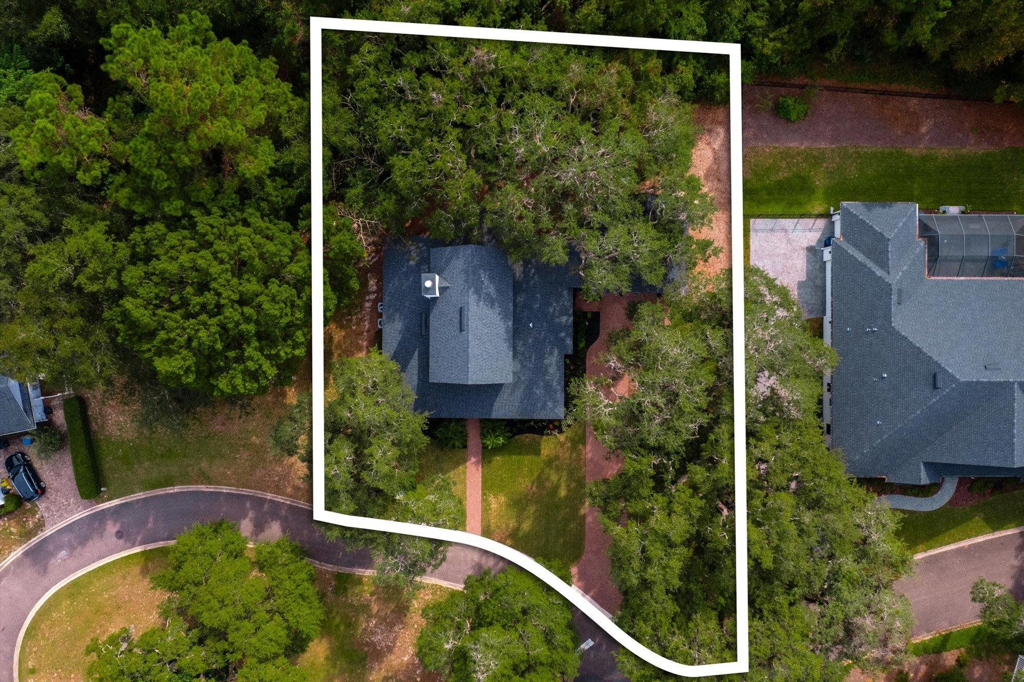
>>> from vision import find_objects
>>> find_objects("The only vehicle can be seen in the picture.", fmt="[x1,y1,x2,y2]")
[8,450,46,504]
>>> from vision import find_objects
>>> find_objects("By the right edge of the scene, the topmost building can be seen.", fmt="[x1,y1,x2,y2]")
[815,200,1024,484]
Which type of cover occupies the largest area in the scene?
trees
